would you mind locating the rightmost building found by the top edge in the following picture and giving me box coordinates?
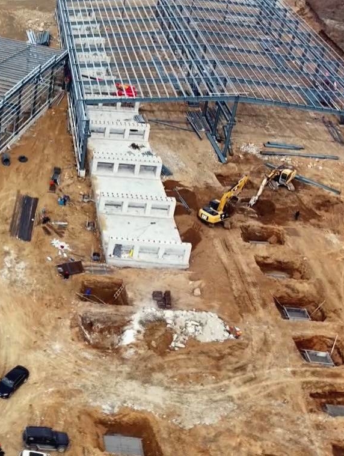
[54,0,344,171]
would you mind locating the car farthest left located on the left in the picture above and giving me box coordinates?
[0,364,30,400]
